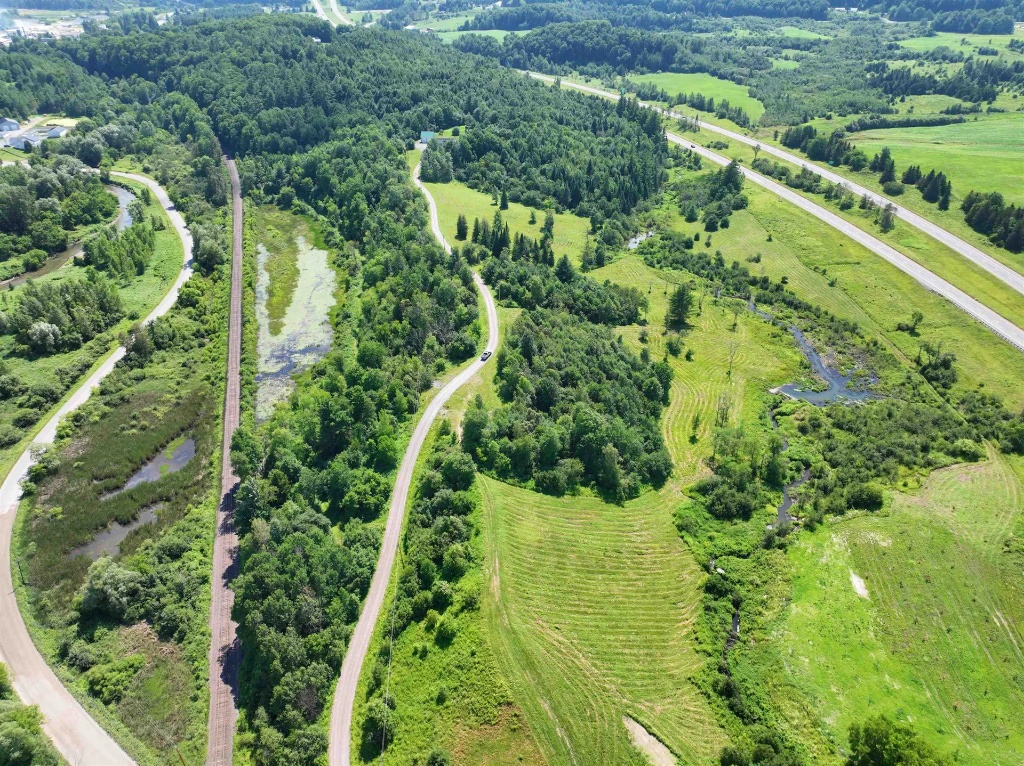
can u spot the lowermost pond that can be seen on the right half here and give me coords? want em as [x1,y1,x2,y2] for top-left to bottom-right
[744,298,881,407]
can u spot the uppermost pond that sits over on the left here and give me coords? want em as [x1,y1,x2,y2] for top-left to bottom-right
[253,236,344,427]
